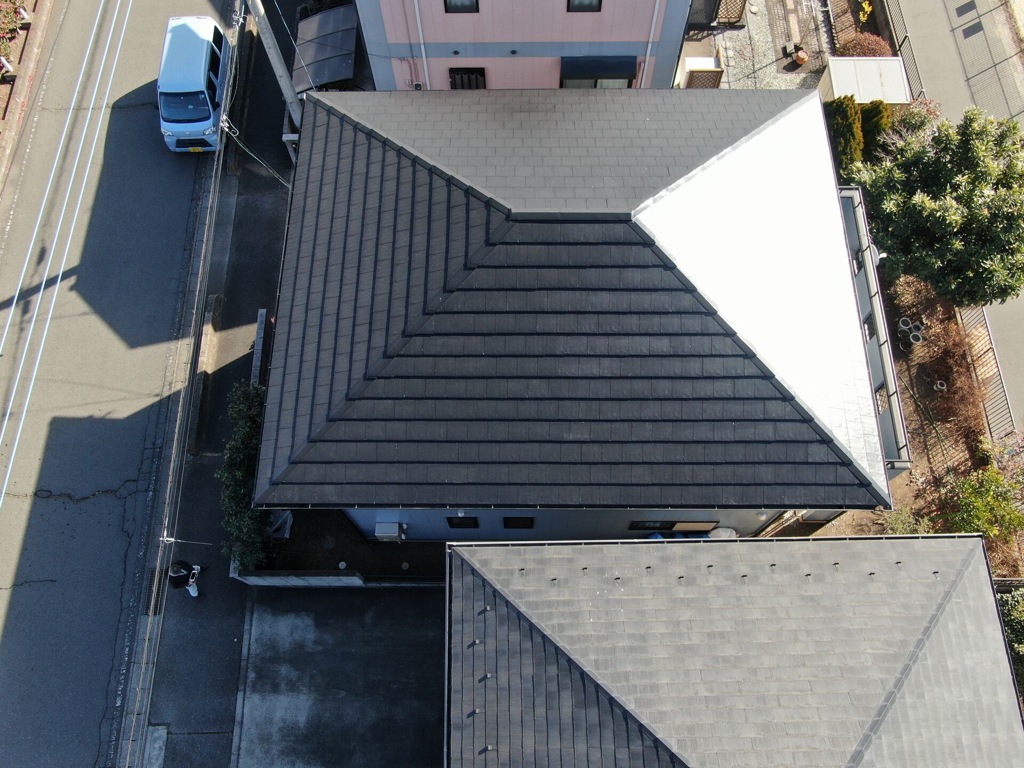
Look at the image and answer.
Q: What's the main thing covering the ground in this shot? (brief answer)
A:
buildings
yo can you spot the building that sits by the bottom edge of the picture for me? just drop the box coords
[440,531,1024,768]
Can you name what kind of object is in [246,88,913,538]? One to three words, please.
house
